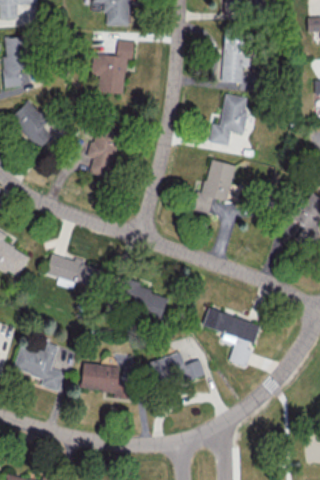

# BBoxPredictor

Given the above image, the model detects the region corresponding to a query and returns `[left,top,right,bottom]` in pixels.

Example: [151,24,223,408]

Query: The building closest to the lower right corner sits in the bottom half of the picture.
[230,336,253,366]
